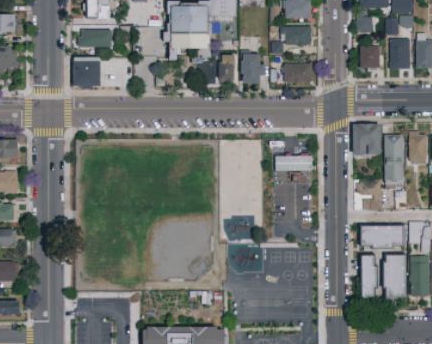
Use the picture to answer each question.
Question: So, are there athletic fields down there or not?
Yes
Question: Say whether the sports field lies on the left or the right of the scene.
left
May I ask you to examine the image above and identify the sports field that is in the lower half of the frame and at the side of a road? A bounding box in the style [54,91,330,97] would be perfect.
[78,144,216,287]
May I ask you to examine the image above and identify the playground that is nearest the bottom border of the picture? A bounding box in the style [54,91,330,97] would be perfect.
[228,244,263,273]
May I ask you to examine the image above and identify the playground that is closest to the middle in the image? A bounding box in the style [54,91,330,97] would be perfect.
[224,216,254,240]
